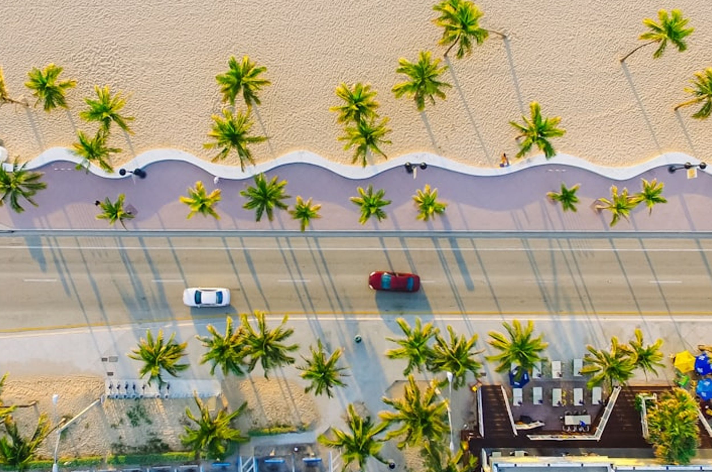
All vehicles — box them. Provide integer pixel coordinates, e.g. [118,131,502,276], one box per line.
[182,287,230,309]
[369,271,421,294]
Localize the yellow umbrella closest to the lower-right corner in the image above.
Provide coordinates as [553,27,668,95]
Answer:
[671,351,694,372]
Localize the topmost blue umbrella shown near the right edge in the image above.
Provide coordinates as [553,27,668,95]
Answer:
[693,353,712,375]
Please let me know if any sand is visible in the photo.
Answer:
Yes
